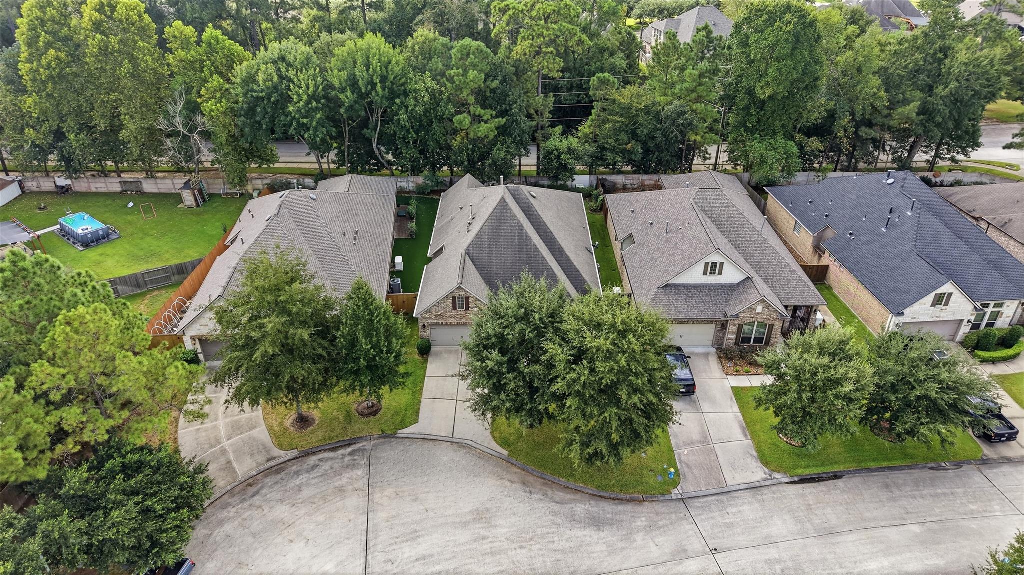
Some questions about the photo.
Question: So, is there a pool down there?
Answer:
Yes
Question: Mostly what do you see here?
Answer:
trees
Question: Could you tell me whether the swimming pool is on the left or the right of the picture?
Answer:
left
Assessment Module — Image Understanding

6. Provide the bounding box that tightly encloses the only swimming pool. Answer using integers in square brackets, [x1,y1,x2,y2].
[57,212,112,248]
